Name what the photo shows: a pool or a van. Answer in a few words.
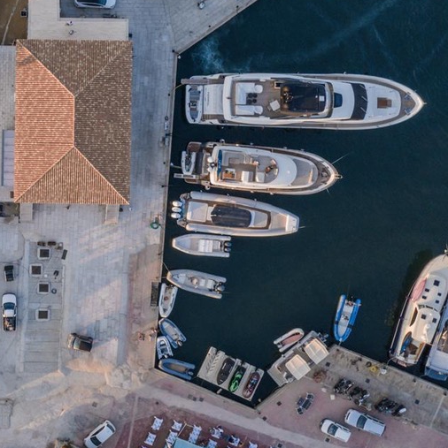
van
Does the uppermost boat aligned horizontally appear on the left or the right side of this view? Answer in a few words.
right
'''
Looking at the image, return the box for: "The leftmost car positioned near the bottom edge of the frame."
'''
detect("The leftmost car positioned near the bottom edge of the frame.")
[85,421,117,448]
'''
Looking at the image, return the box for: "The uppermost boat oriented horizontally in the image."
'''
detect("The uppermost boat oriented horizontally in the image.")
[175,70,427,133]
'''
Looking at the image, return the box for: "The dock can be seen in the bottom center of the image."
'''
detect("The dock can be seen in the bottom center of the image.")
[197,346,263,402]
